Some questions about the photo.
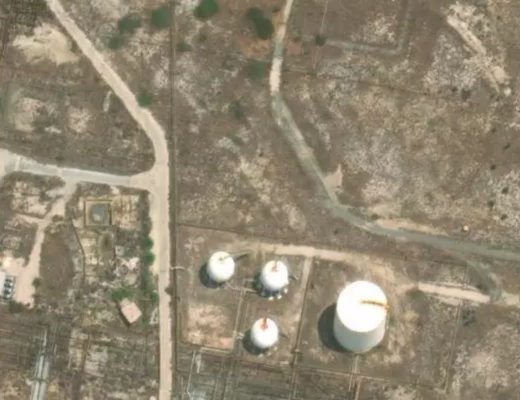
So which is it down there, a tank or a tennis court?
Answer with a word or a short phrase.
tank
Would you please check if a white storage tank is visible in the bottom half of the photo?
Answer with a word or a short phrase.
Yes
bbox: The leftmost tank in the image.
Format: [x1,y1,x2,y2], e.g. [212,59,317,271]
[206,251,251,290]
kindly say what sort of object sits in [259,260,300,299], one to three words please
storage tank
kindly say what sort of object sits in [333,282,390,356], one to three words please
storage tank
